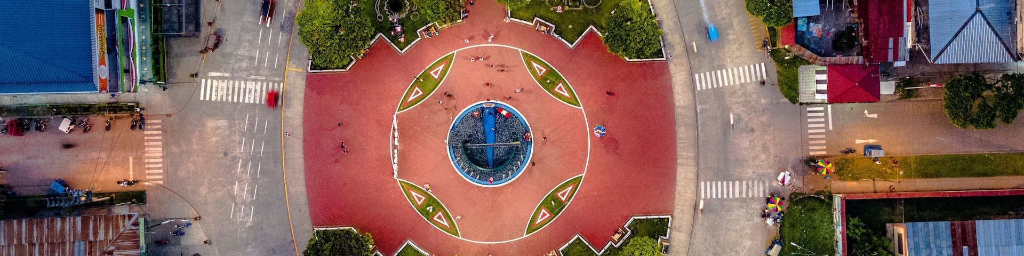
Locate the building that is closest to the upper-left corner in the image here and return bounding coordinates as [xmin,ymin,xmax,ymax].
[0,0,141,96]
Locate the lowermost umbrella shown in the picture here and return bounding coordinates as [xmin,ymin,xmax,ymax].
[768,197,782,211]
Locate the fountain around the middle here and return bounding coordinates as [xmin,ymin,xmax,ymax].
[447,101,533,188]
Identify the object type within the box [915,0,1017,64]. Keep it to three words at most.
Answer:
house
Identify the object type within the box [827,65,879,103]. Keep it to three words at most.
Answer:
building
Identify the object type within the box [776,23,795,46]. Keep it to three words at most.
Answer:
shed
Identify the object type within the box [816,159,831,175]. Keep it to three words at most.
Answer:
umbrella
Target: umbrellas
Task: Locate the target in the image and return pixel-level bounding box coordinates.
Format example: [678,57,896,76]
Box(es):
[768,197,782,211]
[816,159,831,175]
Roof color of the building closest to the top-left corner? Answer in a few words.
blue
